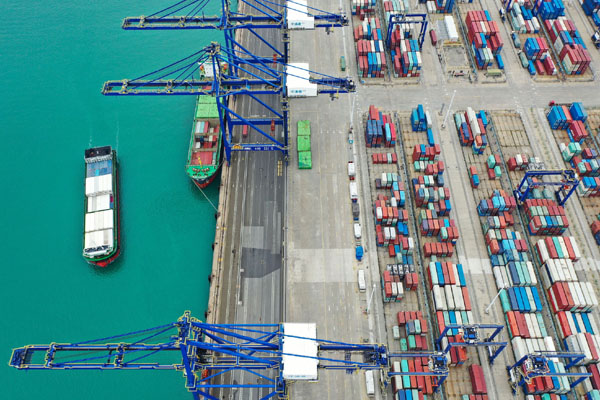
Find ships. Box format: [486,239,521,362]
[82,141,121,266]
[186,52,224,189]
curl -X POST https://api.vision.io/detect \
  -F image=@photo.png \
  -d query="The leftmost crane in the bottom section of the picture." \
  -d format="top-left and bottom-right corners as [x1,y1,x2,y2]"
[5,312,388,400]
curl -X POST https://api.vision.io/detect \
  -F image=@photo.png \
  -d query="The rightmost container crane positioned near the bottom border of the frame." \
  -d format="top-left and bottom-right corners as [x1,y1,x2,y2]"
[511,351,596,392]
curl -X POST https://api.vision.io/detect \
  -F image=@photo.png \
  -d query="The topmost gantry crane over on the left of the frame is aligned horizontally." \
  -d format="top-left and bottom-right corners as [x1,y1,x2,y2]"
[120,0,354,102]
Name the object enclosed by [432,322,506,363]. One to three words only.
container crane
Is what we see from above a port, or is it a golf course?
port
